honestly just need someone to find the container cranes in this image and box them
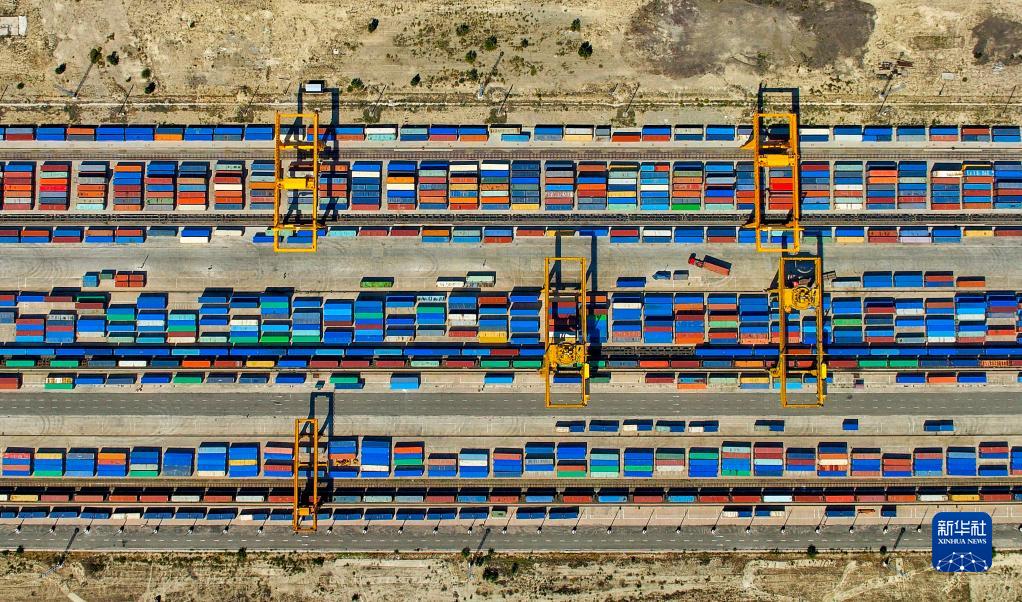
[765,259,827,405]
[739,115,798,251]
[274,115,331,251]
[292,419,326,532]
[537,259,592,405]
